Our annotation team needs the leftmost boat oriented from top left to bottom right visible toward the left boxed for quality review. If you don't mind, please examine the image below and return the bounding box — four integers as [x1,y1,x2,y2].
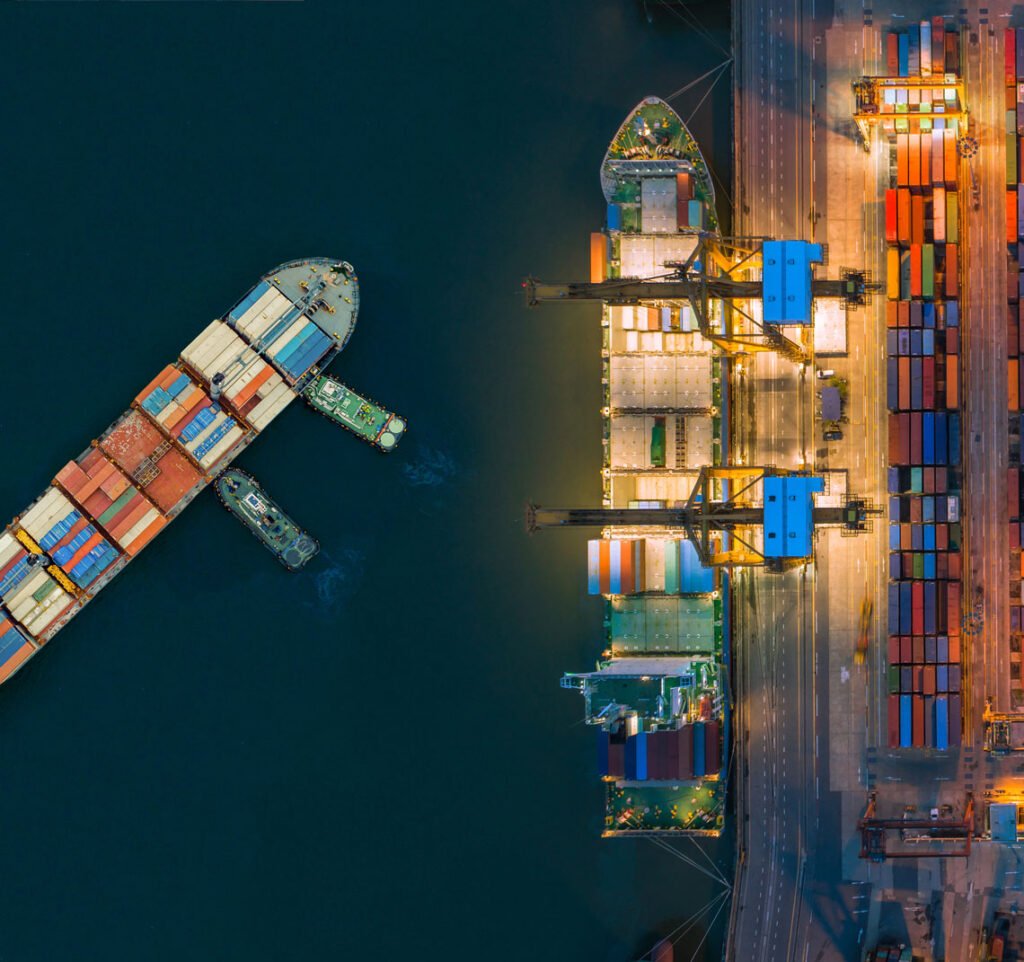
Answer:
[213,469,321,574]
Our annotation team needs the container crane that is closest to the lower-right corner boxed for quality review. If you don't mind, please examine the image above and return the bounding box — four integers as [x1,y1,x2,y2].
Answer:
[859,790,974,866]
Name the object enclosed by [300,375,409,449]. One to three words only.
boat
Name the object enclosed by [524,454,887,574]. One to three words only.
container crane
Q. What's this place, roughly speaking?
port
